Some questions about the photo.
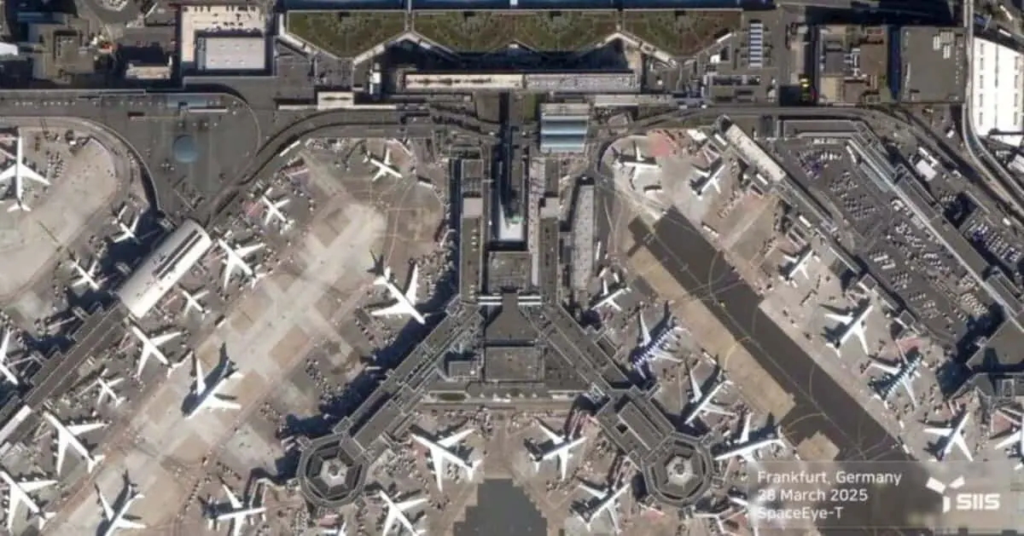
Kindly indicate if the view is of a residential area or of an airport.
airport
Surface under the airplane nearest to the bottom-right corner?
apron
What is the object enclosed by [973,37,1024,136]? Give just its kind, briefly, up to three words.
hangar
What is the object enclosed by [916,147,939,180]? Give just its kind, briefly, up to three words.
building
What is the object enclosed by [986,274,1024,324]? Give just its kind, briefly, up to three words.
building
